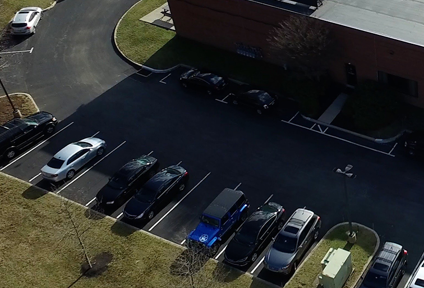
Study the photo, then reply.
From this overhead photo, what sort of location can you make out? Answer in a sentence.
The area seen from above is a parking lot.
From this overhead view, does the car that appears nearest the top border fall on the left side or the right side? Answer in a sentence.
The car that appears nearest the top border appears in the left half of the scene.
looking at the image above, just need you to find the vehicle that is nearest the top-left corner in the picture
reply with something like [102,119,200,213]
[5,10,47,39]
